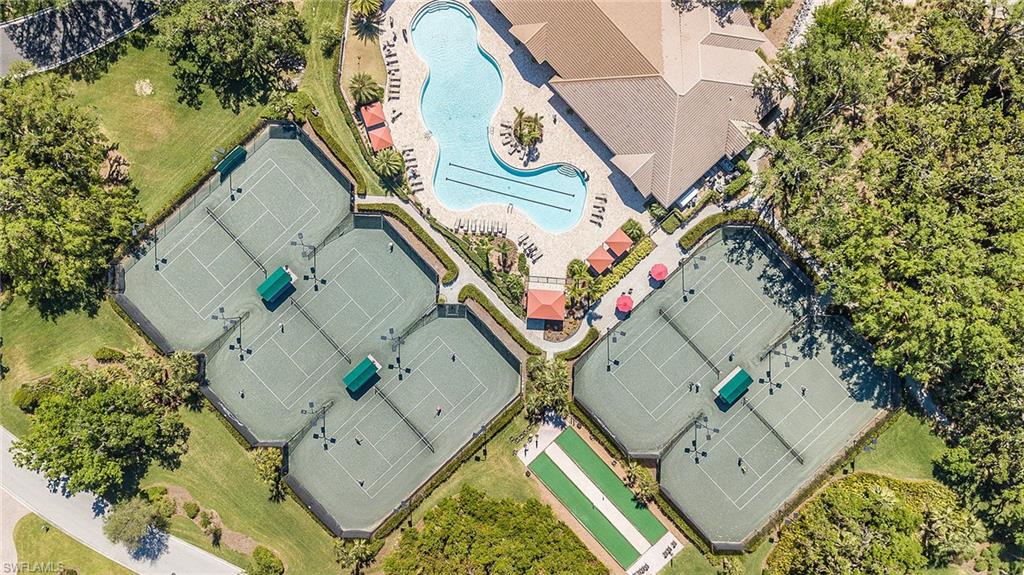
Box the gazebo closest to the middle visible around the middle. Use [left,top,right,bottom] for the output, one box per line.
[526,289,565,320]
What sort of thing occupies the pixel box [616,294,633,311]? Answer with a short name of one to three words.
umbrella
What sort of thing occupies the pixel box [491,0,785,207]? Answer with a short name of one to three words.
building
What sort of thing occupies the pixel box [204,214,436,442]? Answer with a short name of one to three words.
tennis court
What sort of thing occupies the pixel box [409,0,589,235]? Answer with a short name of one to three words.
swimming pool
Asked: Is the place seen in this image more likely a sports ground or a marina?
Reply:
sports ground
